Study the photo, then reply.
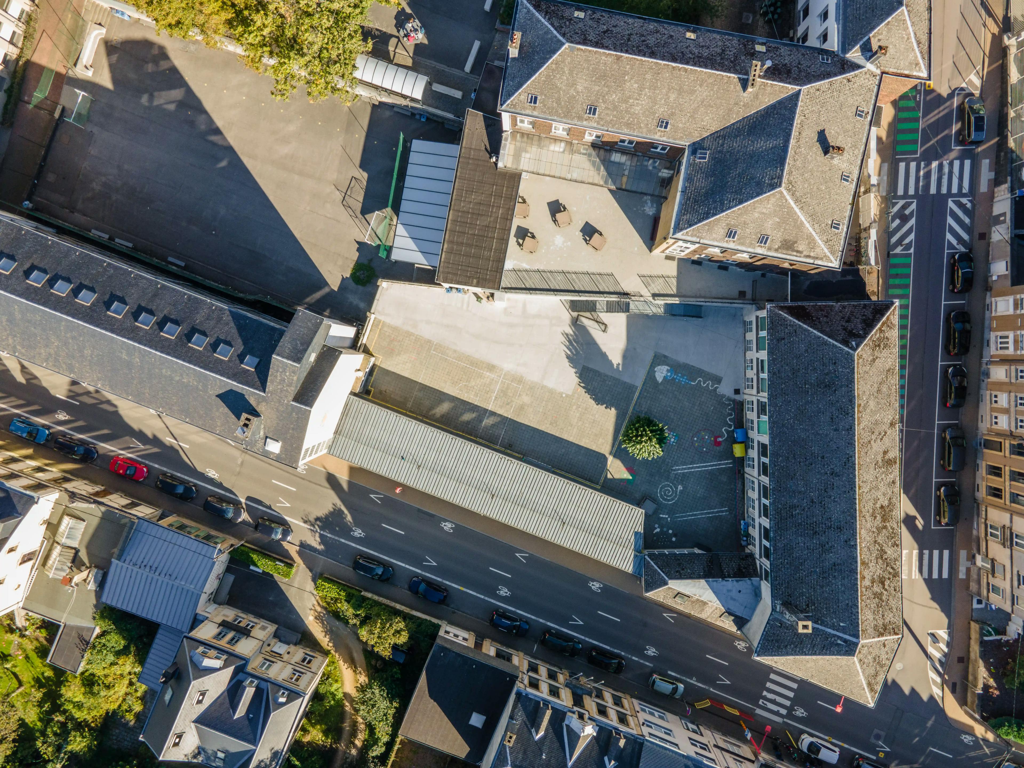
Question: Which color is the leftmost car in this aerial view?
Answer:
blue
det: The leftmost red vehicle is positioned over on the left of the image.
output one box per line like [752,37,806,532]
[106,453,153,483]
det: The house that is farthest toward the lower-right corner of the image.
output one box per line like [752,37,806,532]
[970,501,1024,617]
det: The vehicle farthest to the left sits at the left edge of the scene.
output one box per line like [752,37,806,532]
[5,414,56,446]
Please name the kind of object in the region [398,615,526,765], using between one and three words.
building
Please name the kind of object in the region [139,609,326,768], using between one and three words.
house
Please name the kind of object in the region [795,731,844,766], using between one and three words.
car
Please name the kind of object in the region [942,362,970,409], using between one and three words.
car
